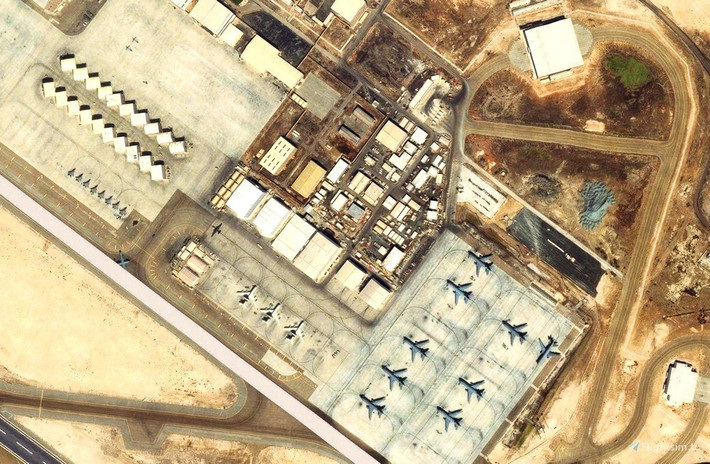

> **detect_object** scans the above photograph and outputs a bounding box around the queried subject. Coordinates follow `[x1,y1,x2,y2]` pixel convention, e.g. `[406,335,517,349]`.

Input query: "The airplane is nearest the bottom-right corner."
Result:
[537,336,561,363]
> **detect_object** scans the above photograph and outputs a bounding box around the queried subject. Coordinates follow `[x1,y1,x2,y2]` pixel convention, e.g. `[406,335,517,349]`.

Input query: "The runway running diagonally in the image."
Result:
[0,175,386,464]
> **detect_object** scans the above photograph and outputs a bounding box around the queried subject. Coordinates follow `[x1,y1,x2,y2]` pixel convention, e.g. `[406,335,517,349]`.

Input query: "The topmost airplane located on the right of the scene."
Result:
[469,252,494,276]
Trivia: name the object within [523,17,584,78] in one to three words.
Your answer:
hangar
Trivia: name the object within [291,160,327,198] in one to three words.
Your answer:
building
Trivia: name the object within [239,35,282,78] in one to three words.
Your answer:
hangar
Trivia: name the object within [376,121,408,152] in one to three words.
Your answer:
building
